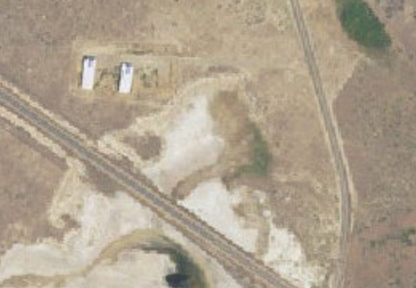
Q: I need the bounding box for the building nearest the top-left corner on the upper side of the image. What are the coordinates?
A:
[82,56,96,90]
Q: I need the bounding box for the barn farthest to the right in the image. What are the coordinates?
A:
[118,63,132,93]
